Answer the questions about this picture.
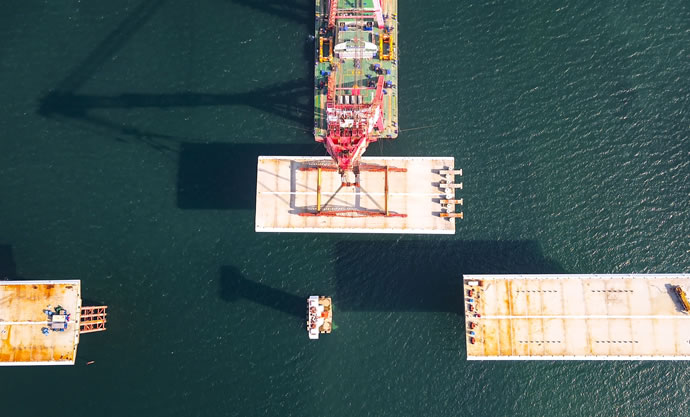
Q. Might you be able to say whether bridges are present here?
Yes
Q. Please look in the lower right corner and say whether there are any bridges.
Yes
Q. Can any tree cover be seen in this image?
No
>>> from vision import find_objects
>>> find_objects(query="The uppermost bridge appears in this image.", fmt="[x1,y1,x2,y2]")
[255,157,456,234]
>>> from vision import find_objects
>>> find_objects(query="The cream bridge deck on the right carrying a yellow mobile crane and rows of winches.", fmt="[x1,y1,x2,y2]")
[462,274,690,360]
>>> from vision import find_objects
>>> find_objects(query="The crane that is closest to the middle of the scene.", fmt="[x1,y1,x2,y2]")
[321,0,386,177]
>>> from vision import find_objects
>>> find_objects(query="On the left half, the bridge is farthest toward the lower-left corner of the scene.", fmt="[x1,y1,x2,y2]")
[0,280,82,365]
